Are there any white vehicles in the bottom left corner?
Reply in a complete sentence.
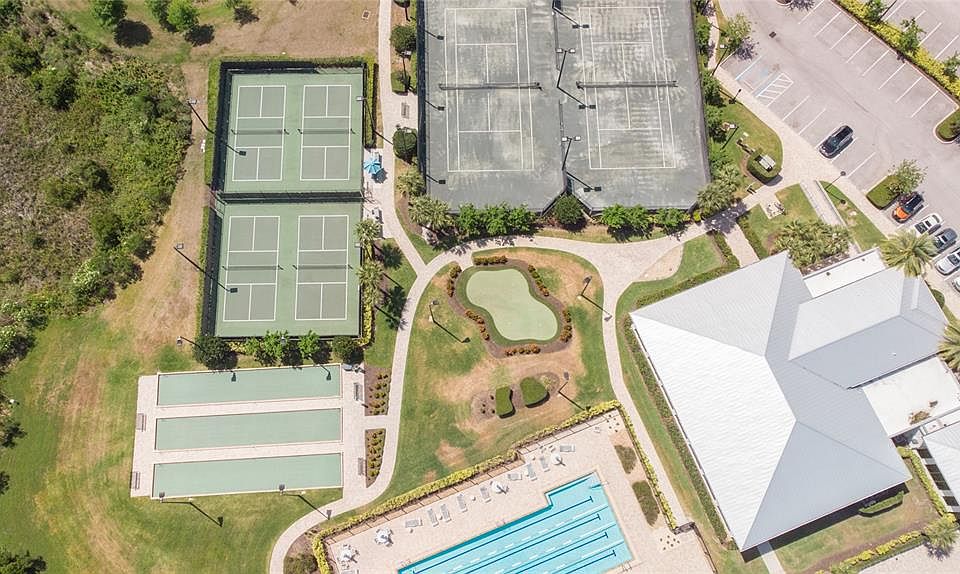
No, looking in the bottom left corner, there is no white vehicle.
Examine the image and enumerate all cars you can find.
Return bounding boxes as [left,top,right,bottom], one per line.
[937,240,960,273]
[908,215,941,246]
[892,196,923,226]
[818,125,853,158]
[952,269,960,288]
[924,229,958,261]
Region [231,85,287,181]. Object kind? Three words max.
sports court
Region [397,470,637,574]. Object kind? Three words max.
swimming pool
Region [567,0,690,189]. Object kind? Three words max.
tennis court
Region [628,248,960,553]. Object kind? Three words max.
building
